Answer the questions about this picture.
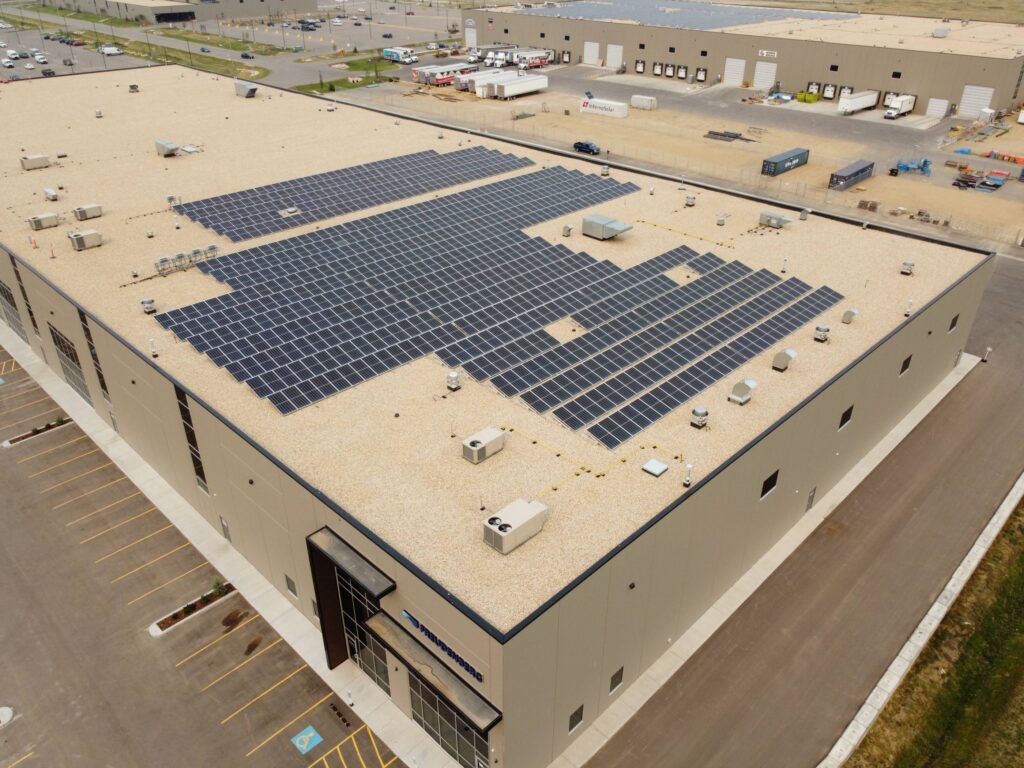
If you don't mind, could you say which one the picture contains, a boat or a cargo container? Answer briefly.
cargo container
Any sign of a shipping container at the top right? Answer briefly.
Yes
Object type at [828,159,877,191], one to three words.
shipping container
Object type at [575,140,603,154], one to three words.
vehicle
